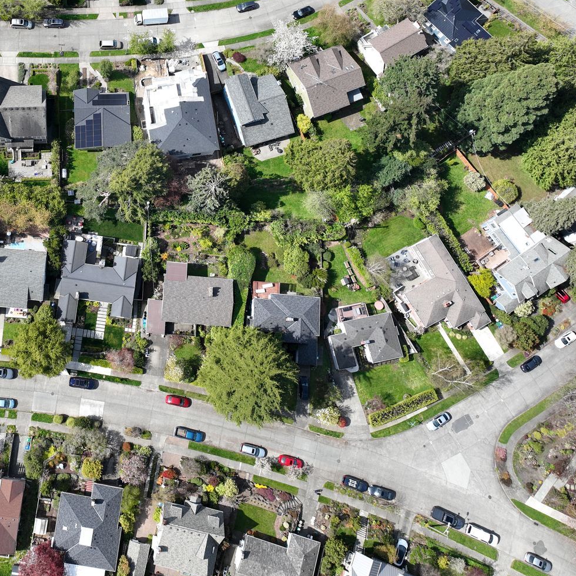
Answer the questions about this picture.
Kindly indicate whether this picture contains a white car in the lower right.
Yes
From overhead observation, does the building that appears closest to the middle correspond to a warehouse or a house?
house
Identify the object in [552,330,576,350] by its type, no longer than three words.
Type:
car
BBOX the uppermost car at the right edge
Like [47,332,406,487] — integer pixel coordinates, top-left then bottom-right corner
[553,283,574,308]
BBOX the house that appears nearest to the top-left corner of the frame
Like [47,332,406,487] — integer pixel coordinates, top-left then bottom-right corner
[0,79,47,151]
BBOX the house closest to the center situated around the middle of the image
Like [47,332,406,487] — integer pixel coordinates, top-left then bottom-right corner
[252,294,320,367]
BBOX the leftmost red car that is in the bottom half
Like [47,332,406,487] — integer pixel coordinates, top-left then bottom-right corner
[164,395,193,409]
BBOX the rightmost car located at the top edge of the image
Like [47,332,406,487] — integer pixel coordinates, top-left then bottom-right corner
[291,4,316,21]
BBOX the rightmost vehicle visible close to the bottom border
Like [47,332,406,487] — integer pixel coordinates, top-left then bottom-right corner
[522,551,554,574]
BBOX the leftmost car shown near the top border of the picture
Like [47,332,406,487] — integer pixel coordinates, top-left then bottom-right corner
[8,18,34,30]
